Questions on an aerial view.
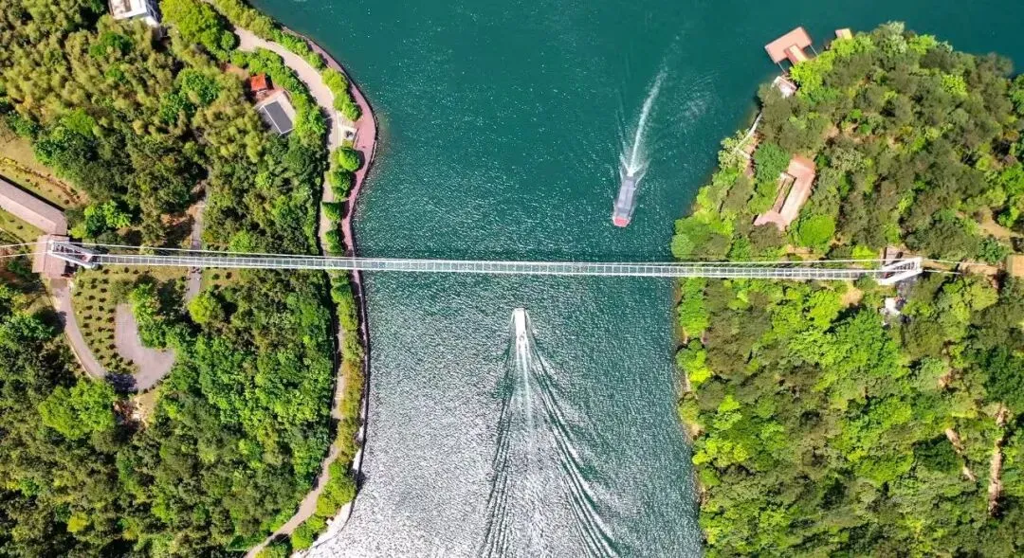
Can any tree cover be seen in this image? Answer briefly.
Yes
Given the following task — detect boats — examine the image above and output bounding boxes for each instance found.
[516,308,525,333]
[616,176,636,227]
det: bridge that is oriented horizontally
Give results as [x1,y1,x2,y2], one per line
[0,240,991,288]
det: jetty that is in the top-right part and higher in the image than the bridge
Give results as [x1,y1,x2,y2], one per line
[764,28,820,73]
